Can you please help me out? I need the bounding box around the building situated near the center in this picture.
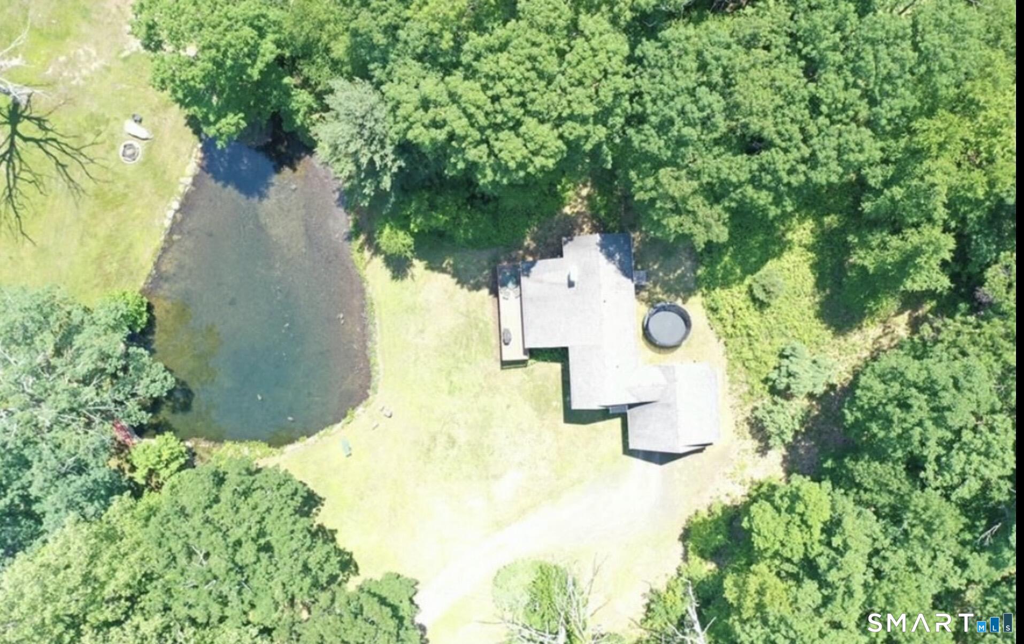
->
[518,233,722,456]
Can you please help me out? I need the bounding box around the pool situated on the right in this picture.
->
[643,300,695,350]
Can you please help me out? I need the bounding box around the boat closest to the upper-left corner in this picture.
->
[123,119,151,138]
